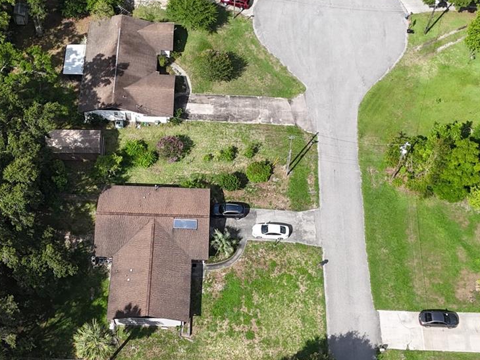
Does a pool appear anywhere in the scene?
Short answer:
No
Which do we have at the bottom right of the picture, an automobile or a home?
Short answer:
automobile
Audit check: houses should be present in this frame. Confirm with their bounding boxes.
[94,183,210,327]
[62,13,175,124]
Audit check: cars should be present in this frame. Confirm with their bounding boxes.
[224,0,251,8]
[212,201,249,218]
[418,308,460,326]
[252,221,290,239]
